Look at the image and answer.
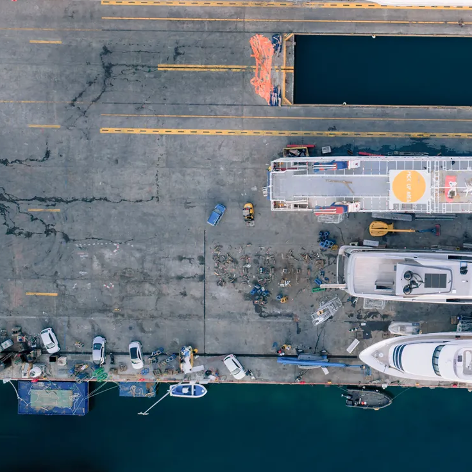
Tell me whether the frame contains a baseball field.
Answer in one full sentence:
No, the photo shows no baseball field.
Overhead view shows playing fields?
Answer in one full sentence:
No, no playing field can be seen from above.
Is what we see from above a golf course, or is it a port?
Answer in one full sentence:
This image shows a port.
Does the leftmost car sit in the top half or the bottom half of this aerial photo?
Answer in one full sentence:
It is in the bottom half that the leftmost car appears.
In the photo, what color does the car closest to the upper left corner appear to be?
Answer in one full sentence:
From above, the car closest to the upper left corner appears blue.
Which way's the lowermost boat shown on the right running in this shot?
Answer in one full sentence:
From this overhead view, the lowermost boat shown on the right appears to run from left to right.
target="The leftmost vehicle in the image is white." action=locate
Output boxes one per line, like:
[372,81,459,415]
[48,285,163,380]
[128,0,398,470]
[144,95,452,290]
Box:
[37,328,60,356]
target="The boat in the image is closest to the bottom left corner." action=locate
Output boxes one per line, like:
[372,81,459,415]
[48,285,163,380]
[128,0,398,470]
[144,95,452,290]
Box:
[171,383,208,398]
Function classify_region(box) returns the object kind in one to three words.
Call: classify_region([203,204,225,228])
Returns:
car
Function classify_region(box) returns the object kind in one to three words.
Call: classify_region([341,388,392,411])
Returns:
boat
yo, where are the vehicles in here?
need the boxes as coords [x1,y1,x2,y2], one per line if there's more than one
[125,342,143,371]
[238,202,257,228]
[203,204,225,228]
[221,356,243,382]
[37,328,60,356]
[89,337,106,366]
